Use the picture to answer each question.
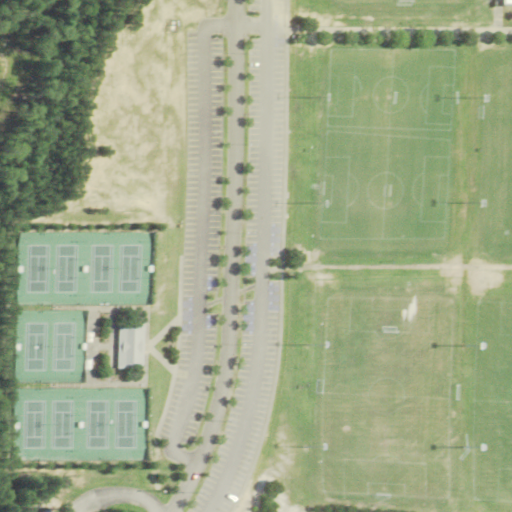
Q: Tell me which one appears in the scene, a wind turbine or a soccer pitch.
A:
soccer pitch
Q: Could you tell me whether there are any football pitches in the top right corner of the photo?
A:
Yes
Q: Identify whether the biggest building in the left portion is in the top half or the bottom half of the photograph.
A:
bottom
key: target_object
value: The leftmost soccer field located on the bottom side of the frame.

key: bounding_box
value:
[323,296,455,499]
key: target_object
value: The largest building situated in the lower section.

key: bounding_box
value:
[118,328,146,370]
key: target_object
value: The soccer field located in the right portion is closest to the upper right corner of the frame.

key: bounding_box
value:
[328,48,456,132]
